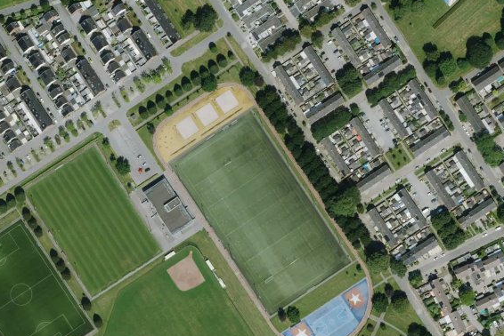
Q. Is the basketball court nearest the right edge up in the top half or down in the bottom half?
bottom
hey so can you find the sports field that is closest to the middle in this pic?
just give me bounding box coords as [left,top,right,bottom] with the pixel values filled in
[171,109,353,315]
